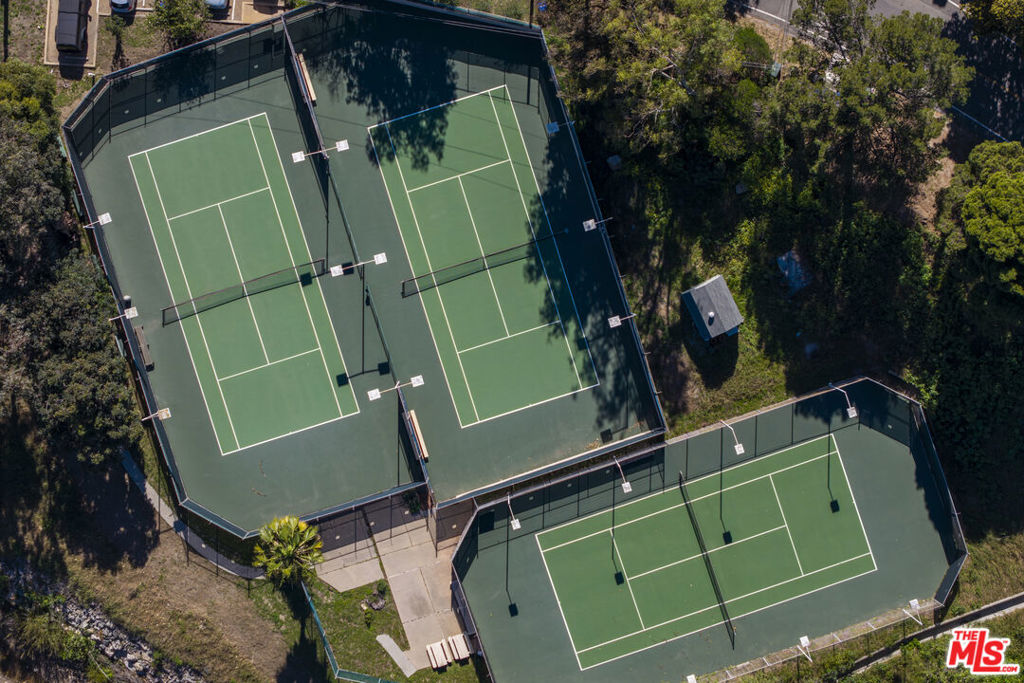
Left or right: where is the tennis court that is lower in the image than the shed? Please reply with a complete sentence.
The tennis court that is lower in the image than the shed sits on the right side.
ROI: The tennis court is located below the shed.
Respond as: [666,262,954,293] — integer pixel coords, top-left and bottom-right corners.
[453,376,957,683]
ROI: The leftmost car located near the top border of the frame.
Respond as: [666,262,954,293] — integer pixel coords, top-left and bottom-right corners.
[60,0,89,54]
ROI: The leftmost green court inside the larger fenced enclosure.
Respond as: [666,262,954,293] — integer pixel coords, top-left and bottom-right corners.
[75,25,424,531]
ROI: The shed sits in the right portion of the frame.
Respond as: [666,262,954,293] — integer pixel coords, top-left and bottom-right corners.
[684,273,743,339]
